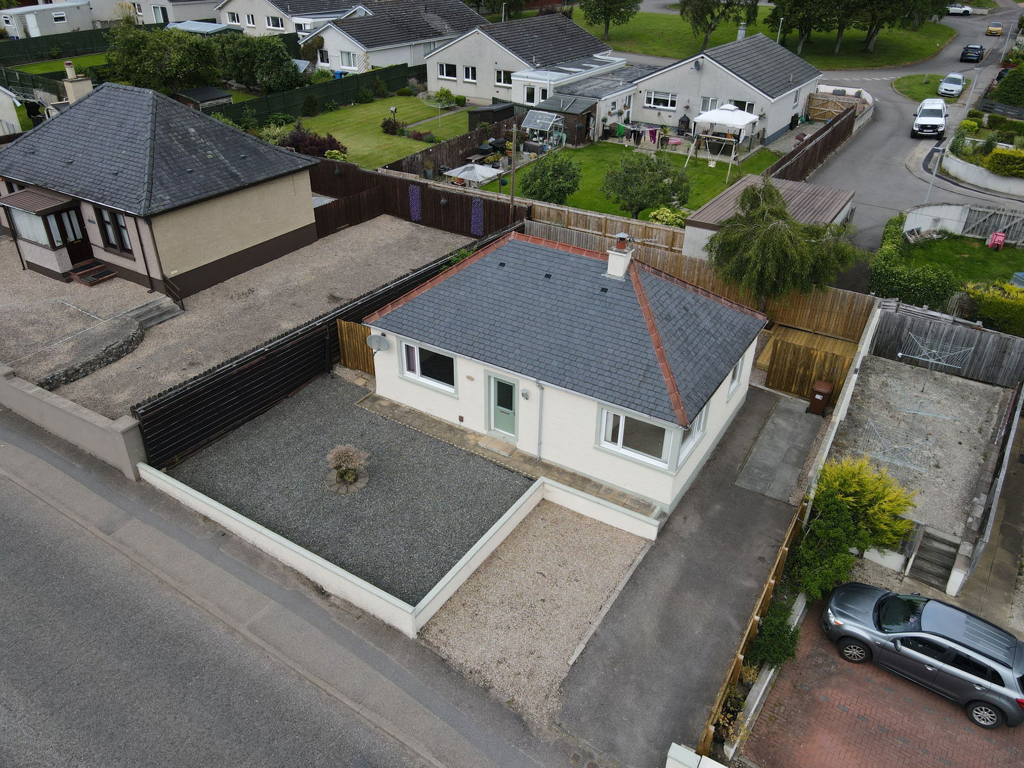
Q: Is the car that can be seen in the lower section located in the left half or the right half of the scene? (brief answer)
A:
right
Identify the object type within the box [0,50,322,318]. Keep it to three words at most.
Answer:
house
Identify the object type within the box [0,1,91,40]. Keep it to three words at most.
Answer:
shed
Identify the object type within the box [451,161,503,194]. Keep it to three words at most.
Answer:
gazebo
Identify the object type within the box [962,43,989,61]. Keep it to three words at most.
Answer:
car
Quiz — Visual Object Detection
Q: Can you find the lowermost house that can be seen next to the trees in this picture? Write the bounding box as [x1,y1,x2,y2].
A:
[358,229,770,514]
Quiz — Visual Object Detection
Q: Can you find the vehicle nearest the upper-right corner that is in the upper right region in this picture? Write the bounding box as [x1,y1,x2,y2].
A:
[986,19,1007,35]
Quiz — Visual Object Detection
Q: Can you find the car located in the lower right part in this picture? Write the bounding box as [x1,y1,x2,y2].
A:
[823,584,1024,734]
